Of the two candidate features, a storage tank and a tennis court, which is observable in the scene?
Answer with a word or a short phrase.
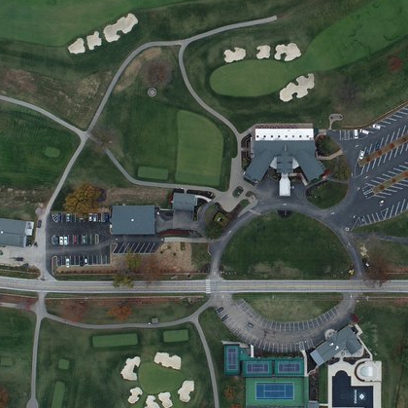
tennis court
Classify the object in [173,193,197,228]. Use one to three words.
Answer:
building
